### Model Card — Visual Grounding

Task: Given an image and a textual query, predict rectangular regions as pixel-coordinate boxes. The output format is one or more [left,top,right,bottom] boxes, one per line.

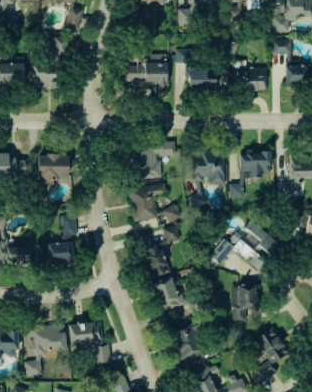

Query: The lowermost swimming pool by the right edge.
[291,38,312,60]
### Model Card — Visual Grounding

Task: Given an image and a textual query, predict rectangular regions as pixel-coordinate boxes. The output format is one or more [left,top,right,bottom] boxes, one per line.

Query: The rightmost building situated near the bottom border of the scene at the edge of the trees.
[256,327,286,378]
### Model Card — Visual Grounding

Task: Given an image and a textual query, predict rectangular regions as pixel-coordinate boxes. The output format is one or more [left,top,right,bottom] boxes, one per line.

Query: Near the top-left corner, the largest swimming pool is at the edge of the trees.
[44,8,64,27]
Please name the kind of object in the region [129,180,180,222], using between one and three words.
house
